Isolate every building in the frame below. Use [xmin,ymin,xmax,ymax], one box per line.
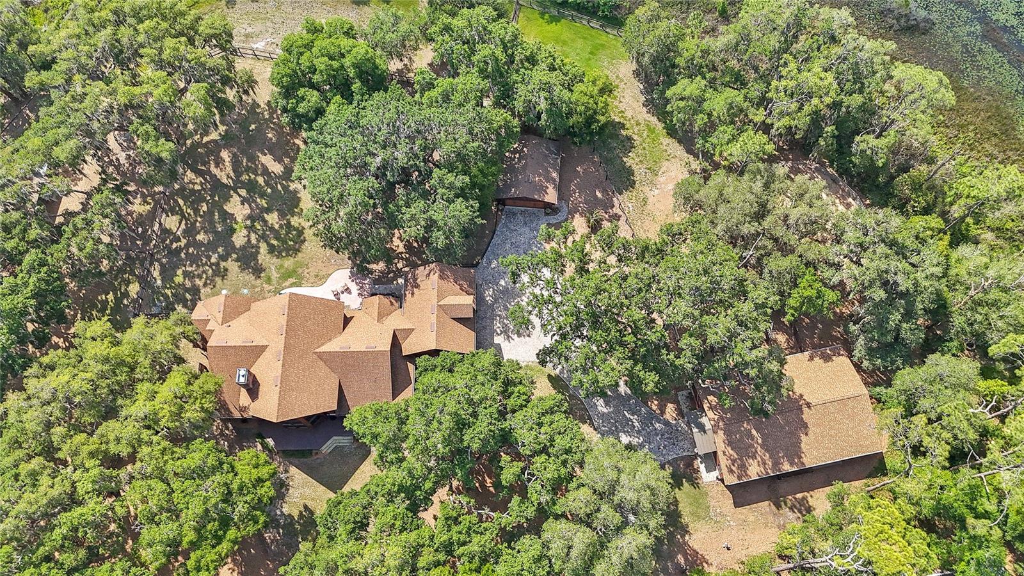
[695,345,882,486]
[497,135,562,212]
[192,264,477,428]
